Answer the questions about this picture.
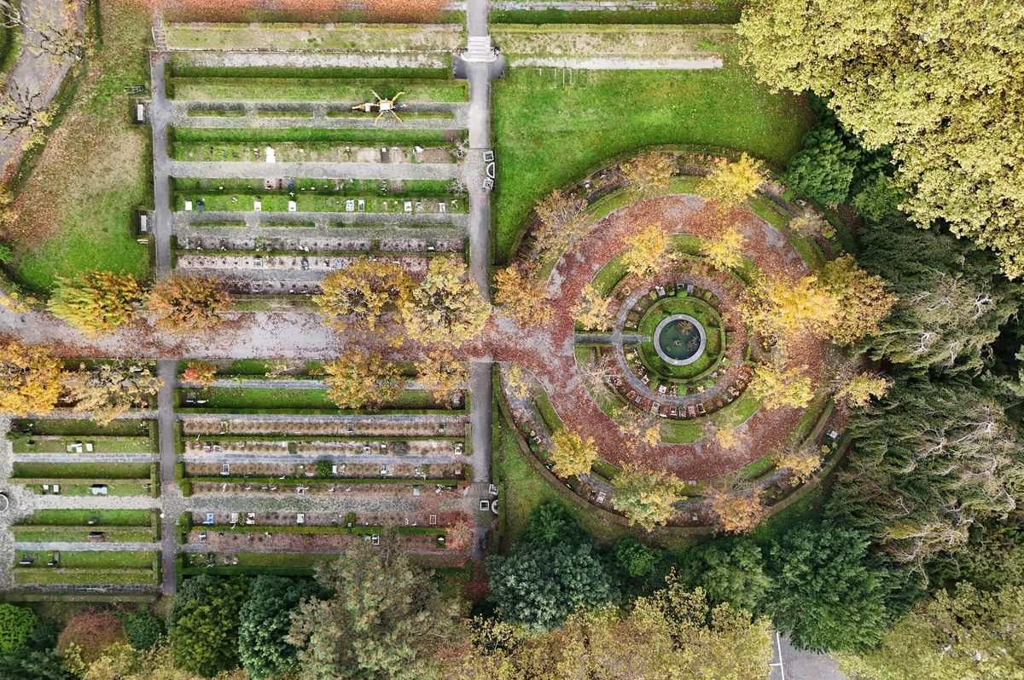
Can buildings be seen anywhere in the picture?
No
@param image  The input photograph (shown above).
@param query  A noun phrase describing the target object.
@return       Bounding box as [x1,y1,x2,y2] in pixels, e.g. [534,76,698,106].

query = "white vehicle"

[352,88,407,127]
